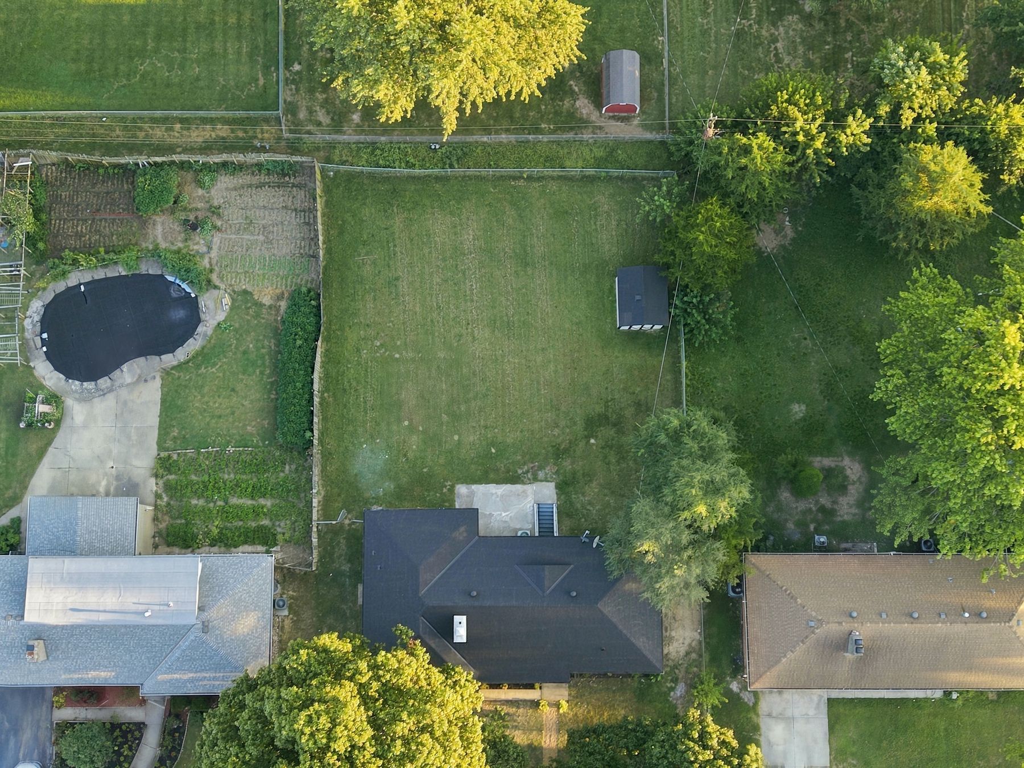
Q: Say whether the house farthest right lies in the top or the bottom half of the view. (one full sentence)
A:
The bottom half of the photo is where the house farthest right is.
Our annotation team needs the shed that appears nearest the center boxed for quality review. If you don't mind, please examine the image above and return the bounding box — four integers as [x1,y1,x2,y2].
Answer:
[613,266,668,334]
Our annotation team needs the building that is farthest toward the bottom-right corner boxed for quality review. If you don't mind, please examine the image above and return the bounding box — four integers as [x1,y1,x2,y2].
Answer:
[739,551,1024,693]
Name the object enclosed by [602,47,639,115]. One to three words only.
shed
